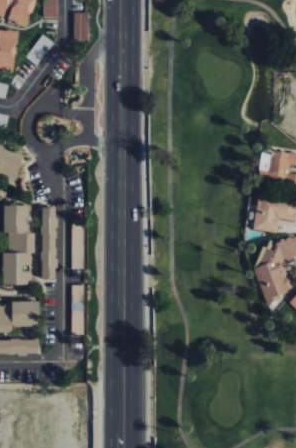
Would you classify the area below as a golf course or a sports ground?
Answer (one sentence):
It's a golf course.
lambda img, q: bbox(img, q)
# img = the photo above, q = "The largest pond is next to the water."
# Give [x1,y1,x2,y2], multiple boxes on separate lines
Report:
[242,10,272,126]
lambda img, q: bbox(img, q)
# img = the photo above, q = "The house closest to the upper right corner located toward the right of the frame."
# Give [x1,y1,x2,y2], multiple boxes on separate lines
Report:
[258,150,296,185]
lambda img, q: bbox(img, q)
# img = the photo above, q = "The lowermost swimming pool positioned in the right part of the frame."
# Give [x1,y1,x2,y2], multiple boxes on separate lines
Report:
[244,227,266,242]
